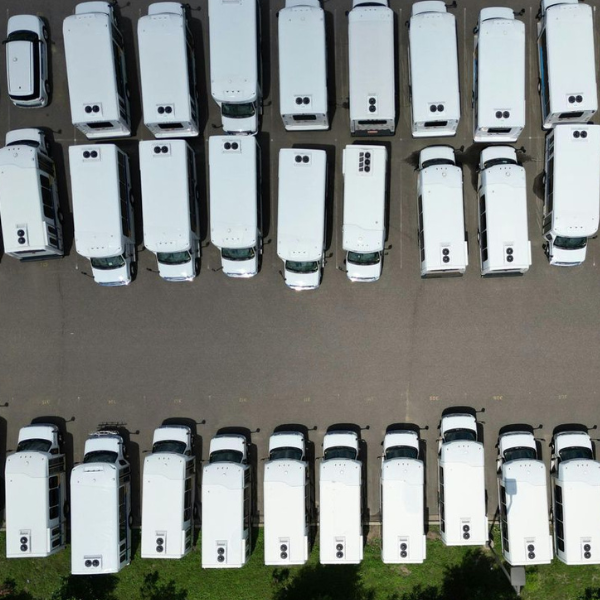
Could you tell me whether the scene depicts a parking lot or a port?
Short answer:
parking lot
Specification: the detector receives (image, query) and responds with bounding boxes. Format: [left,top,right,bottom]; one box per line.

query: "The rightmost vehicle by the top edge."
[536,0,597,133]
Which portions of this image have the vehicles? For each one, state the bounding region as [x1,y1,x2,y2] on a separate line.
[277,0,331,131]
[472,145,528,283]
[142,423,198,559]
[376,427,430,562]
[434,409,489,545]
[275,148,330,292]
[471,8,525,145]
[536,0,597,133]
[7,423,70,558]
[72,427,134,574]
[261,429,315,564]
[543,124,600,270]
[315,428,369,563]
[405,0,459,138]
[210,135,266,280]
[548,429,600,565]
[2,16,52,109]
[345,0,398,137]
[494,428,554,565]
[337,145,391,284]
[139,2,202,140]
[210,0,266,137]
[202,432,255,568]
[70,143,137,288]
[66,2,134,141]
[412,145,467,283]
[0,127,66,264]
[141,139,202,283]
